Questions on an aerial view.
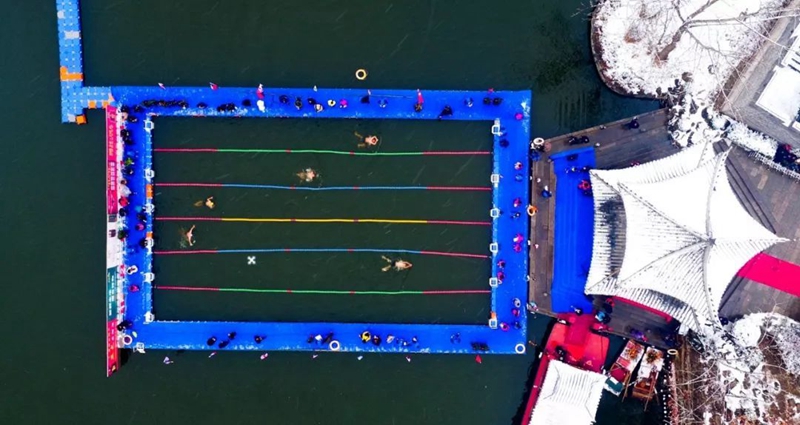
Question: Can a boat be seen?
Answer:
Yes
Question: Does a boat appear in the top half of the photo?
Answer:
No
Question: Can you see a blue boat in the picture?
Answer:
No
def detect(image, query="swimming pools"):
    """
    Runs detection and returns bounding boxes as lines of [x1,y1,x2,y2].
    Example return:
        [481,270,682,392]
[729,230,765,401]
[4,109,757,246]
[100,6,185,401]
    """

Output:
[112,87,531,353]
